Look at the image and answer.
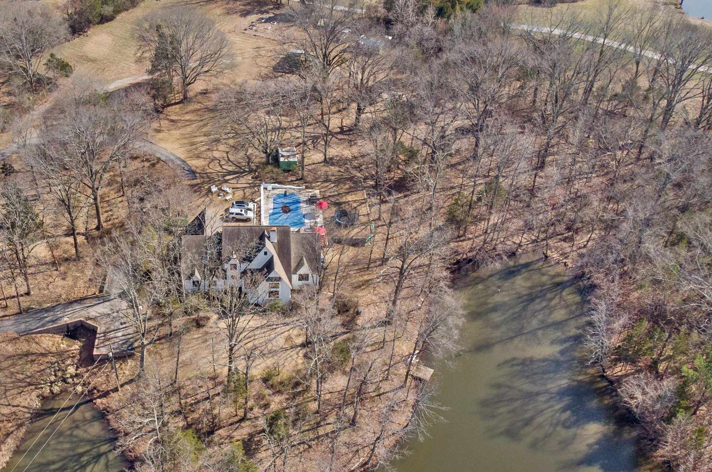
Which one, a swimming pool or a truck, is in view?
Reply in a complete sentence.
Visible in the photo is a swimming pool.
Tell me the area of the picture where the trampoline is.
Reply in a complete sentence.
The trampoline is in the center part of the image.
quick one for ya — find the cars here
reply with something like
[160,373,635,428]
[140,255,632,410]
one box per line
[230,198,255,211]
[230,208,253,221]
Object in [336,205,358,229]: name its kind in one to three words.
trampoline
